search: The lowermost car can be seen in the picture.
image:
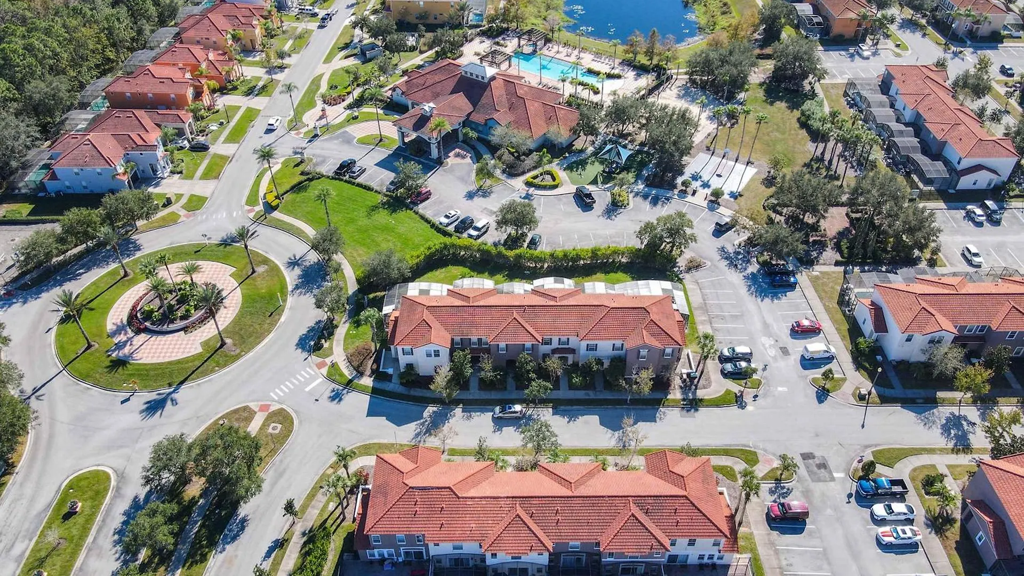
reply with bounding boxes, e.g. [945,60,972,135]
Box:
[875,525,924,547]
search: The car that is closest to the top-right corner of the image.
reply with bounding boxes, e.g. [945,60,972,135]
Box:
[1000,63,1014,76]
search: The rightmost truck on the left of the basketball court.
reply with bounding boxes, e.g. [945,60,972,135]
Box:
[574,186,597,207]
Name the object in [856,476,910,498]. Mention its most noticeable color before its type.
blue truck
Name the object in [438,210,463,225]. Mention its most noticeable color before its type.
white car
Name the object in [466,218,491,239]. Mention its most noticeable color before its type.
white car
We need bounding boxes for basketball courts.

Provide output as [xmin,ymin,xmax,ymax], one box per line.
[676,152,757,200]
